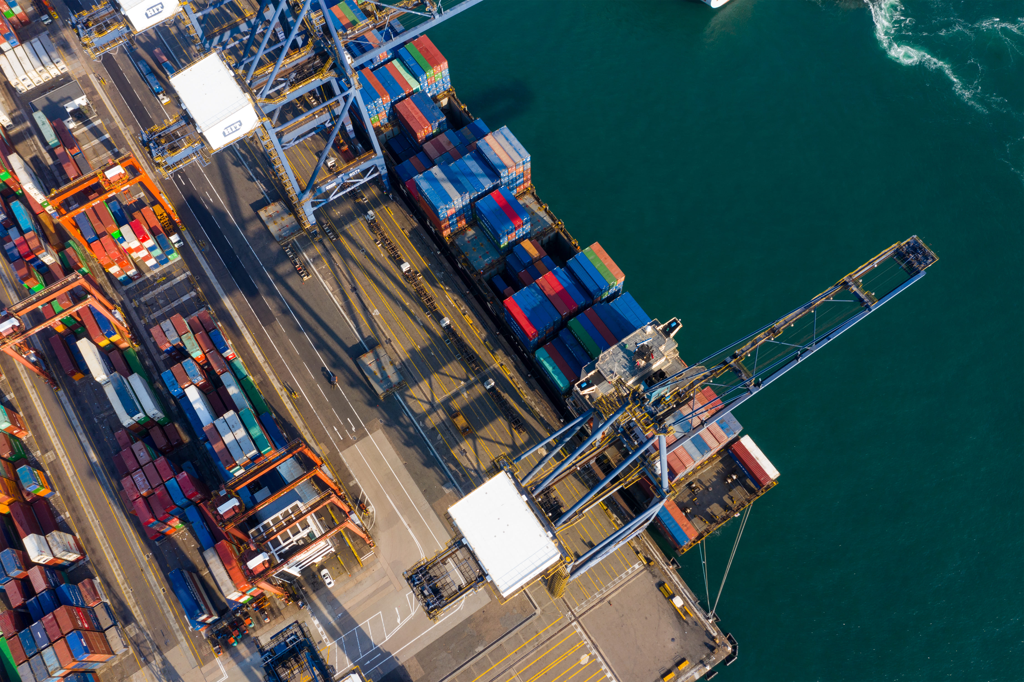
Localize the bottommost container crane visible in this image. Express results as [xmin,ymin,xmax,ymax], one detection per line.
[241,605,377,682]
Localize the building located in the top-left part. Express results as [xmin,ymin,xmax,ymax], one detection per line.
[29,79,100,143]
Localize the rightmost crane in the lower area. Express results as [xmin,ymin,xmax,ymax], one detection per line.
[397,231,946,638]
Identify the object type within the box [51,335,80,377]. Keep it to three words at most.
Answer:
shipping container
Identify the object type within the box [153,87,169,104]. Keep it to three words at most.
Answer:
vehicle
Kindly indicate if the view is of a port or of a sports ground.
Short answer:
port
